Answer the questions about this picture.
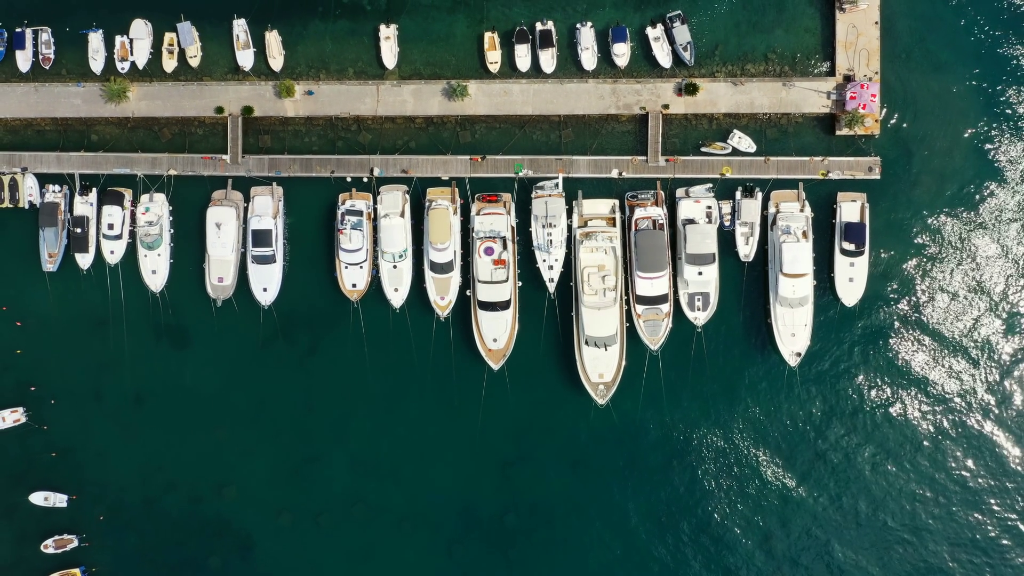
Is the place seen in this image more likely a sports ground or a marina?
marina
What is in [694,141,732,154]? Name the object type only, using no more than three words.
boat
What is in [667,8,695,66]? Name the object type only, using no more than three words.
boat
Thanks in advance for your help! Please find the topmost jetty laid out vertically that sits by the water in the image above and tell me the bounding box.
[831,0,879,135]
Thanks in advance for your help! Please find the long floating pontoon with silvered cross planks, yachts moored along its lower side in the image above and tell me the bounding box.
[0,153,880,179]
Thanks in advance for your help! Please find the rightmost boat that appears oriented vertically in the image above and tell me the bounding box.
[831,192,869,307]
